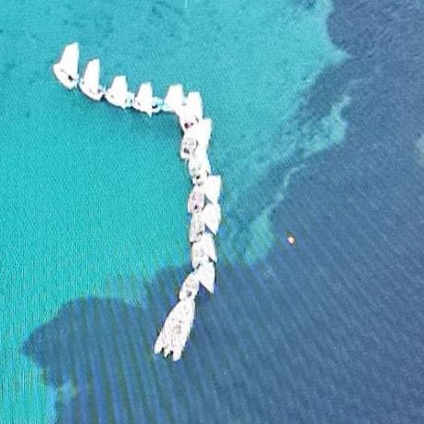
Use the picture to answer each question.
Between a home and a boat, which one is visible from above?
boat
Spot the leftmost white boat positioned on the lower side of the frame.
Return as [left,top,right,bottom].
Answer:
[150,299,197,369]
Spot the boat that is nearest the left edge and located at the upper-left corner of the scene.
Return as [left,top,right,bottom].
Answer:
[53,42,82,90]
